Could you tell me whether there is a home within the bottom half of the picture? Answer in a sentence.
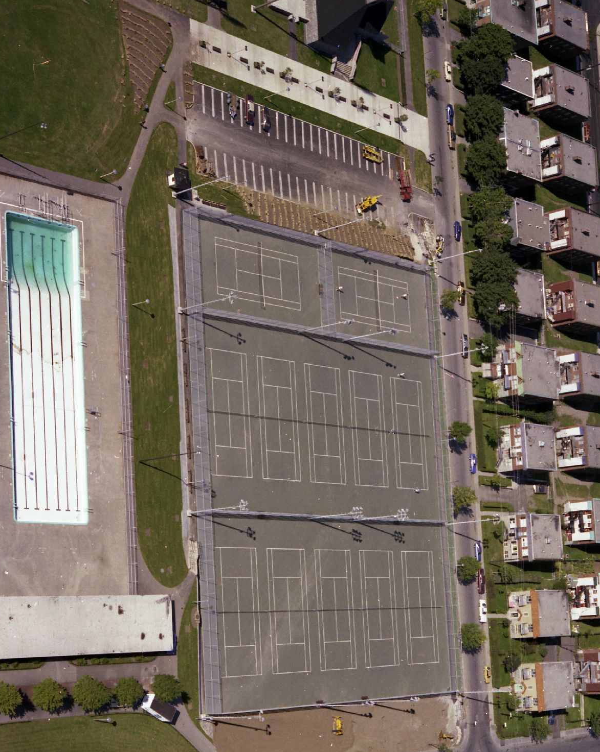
Yes, a home shows up within the bottom half of the picture.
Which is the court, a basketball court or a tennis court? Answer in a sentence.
The court can be classified as a tennis court.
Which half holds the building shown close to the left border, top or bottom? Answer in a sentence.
Seen from above, the building shown close to the left border lies in the bottom half of the view.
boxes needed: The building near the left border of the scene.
[0,594,174,660]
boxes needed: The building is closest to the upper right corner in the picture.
[536,0,591,58]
